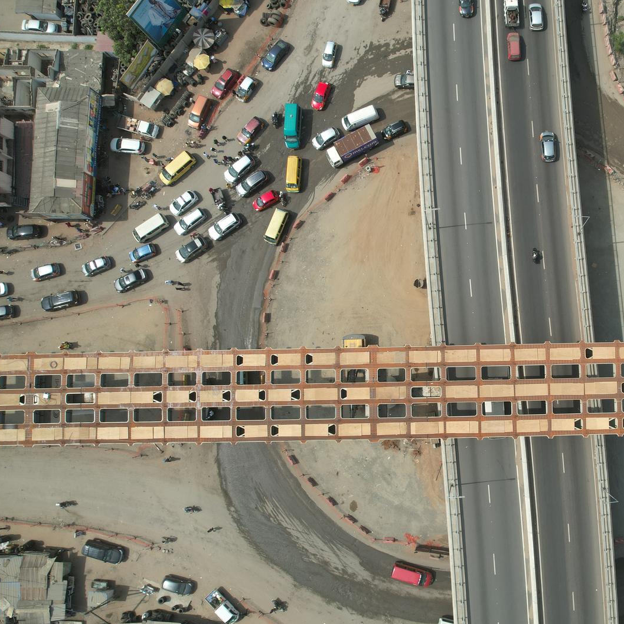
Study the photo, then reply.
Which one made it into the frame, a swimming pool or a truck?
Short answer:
truck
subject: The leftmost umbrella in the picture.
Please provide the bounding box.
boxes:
[156,77,175,95]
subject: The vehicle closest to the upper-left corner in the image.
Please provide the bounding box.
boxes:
[22,18,60,31]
